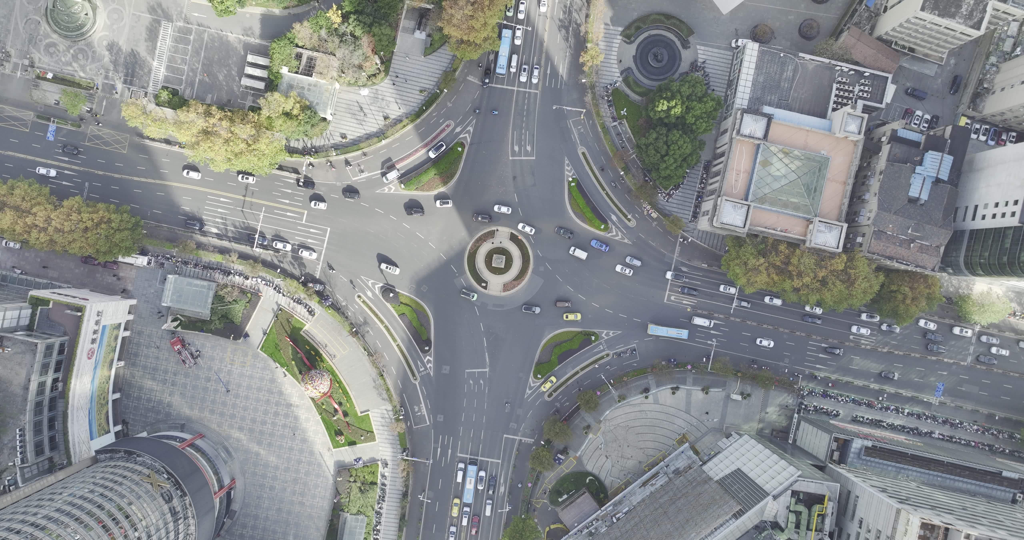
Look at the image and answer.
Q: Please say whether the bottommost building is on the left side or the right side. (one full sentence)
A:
The bottommost building sits on the left side.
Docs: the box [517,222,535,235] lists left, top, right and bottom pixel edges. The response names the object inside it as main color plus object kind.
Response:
white vehicle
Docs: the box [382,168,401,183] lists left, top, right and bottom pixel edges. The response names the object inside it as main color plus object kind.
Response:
white vehicle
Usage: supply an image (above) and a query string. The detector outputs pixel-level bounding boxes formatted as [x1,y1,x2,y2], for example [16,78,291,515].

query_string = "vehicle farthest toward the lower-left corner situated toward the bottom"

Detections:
[171,334,202,368]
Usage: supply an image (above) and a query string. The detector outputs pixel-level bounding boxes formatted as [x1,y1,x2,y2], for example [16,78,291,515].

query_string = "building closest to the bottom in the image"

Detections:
[338,509,371,540]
